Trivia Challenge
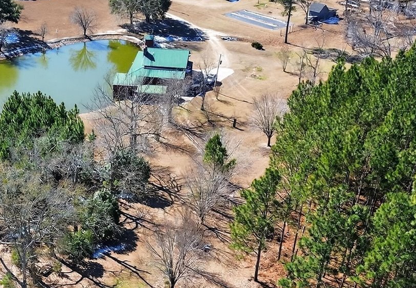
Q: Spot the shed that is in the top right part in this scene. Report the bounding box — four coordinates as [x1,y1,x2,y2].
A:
[310,4,337,22]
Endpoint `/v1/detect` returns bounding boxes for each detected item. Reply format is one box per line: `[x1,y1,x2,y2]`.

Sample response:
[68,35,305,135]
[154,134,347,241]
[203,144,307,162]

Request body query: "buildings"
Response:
[104,39,196,96]
[310,4,337,22]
